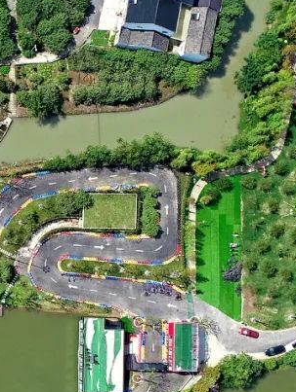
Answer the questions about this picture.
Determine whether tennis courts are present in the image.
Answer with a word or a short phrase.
No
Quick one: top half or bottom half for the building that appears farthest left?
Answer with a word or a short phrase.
bottom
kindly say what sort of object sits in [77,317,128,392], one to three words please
building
